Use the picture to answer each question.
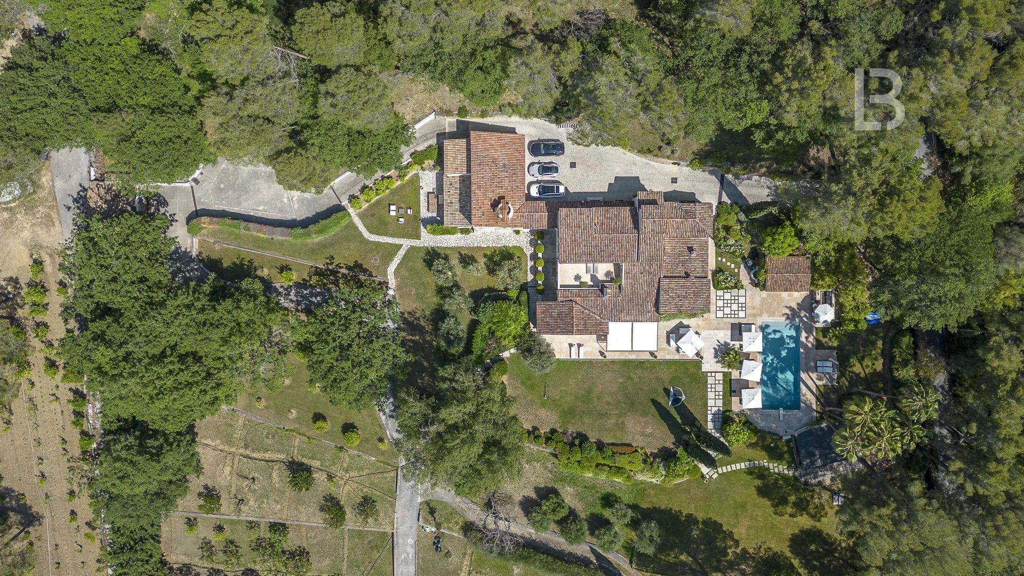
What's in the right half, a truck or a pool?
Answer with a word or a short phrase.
pool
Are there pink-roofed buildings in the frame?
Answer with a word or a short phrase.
No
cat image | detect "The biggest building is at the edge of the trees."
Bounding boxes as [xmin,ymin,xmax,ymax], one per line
[536,191,714,335]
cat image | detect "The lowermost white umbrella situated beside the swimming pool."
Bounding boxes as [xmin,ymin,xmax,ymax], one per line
[741,388,762,409]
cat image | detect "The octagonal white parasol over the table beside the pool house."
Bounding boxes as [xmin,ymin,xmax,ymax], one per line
[813,303,834,323]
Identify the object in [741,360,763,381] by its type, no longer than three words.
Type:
umbrella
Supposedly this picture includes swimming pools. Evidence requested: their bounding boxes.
[760,320,804,413]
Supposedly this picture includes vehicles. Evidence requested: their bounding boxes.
[530,181,566,199]
[530,139,566,157]
[528,161,561,178]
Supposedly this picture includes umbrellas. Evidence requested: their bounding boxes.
[741,360,763,381]
[742,332,762,352]
[676,329,705,358]
[813,303,834,323]
[741,388,762,409]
